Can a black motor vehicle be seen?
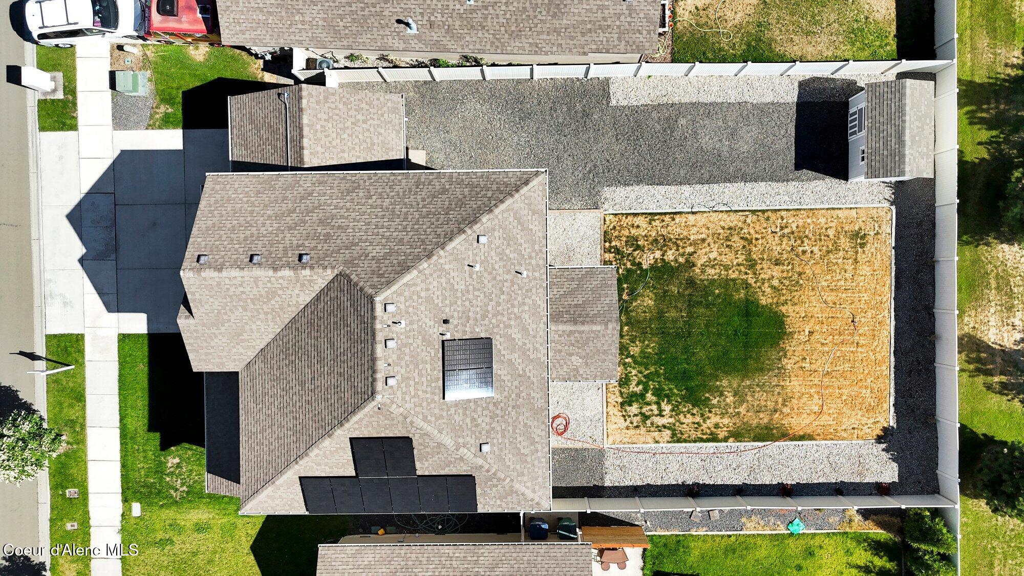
No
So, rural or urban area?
urban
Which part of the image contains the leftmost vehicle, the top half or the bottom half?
top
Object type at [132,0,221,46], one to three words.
truck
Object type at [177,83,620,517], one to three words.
house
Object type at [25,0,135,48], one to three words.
vehicle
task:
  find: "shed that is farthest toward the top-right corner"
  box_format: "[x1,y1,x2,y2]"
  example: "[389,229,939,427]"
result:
[848,79,935,182]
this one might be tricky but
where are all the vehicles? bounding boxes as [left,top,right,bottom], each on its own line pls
[25,0,135,48]
[132,0,221,46]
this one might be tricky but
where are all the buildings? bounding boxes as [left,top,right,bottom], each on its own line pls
[848,79,935,182]
[177,83,620,517]
[315,533,593,576]
[214,0,660,60]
